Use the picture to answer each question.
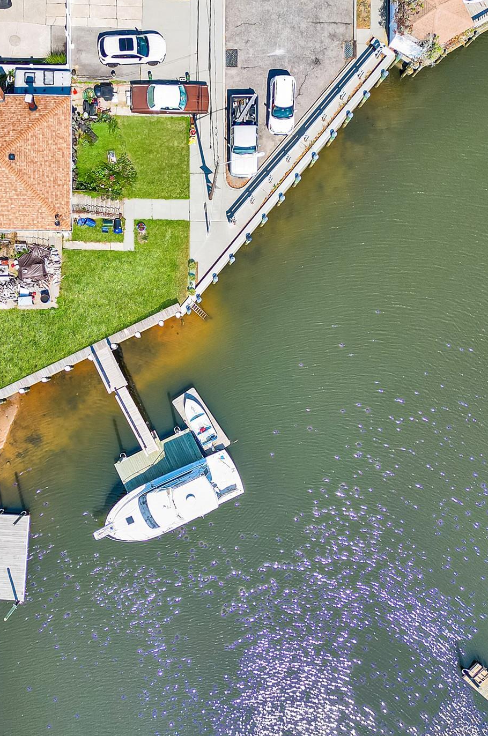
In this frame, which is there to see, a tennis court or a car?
car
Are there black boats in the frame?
No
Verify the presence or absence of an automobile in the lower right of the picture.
No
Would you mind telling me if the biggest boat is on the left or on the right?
left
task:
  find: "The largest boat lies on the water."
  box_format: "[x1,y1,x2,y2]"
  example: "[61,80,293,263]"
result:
[92,448,245,542]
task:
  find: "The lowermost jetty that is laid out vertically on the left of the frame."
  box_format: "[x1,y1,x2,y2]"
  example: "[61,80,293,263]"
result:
[0,514,32,602]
